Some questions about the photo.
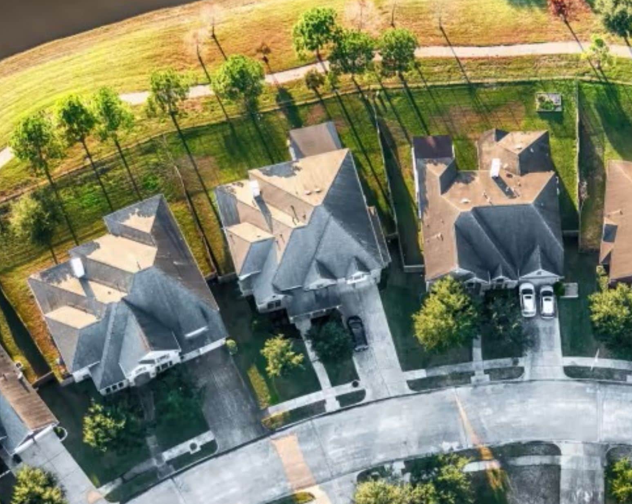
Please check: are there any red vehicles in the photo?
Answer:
No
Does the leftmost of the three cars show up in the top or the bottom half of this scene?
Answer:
bottom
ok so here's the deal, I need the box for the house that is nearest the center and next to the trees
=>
[214,122,390,327]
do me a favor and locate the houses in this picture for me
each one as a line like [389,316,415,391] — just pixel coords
[28,194,227,397]
[411,129,564,289]
[0,345,60,460]
[600,160,632,291]
[214,122,390,327]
